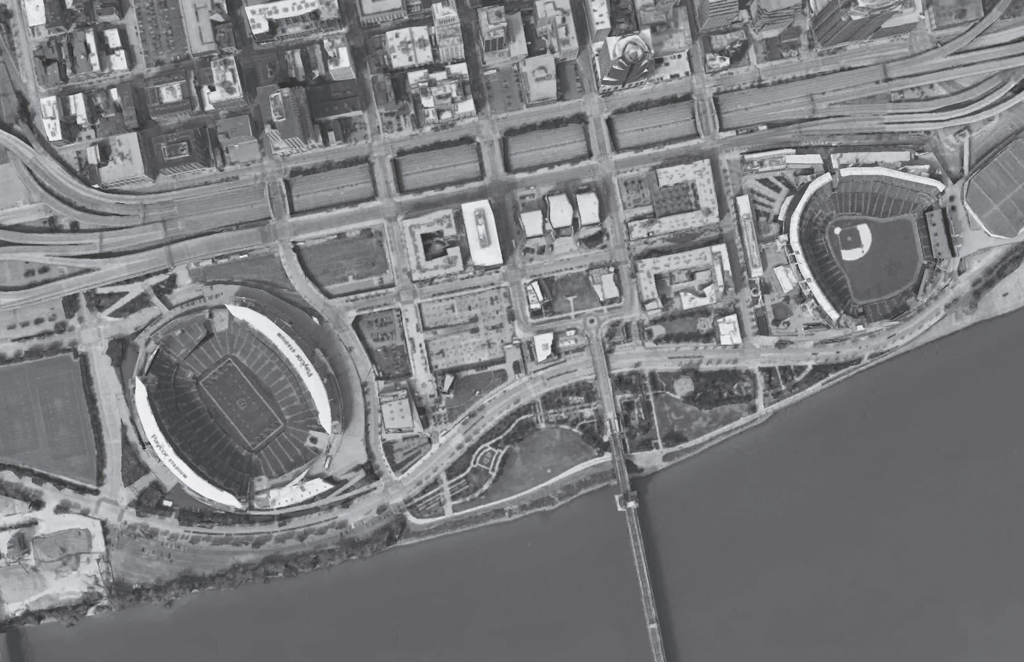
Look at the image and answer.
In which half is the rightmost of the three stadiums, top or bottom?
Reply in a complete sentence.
Seen from above, the rightmost of the three stadiums lies in the top half of the view.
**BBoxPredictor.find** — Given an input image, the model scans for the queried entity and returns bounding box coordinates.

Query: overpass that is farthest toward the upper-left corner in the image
[261,178,292,222]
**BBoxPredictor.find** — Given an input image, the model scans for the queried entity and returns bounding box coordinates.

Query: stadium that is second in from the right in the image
[782,167,956,320]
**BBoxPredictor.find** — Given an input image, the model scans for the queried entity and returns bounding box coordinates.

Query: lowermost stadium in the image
[131,292,342,515]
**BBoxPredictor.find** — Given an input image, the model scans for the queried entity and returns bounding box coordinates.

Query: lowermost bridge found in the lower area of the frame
[587,330,666,662]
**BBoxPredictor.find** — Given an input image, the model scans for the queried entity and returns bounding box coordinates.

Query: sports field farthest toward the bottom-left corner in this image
[0,351,97,488]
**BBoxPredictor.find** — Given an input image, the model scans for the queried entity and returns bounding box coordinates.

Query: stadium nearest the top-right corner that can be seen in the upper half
[956,131,1024,240]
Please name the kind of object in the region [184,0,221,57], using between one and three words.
building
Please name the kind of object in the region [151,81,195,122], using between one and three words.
building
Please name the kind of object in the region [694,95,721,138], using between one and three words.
overpass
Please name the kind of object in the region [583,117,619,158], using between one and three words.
overpass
